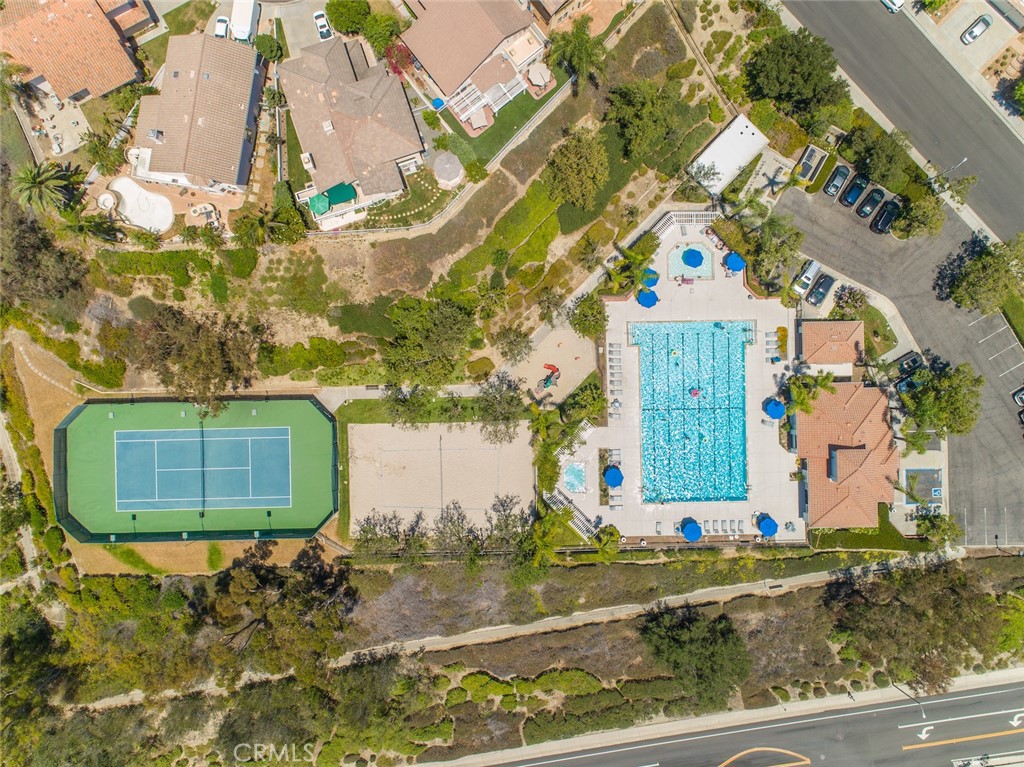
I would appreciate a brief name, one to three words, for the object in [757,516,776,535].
umbrella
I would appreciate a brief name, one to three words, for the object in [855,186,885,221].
car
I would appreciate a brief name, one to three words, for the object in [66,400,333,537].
tennis court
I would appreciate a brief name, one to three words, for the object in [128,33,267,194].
house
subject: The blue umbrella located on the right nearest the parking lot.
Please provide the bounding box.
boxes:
[725,253,745,273]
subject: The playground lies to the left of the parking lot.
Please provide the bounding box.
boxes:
[508,329,596,408]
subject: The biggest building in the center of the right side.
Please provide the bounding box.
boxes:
[791,382,900,529]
